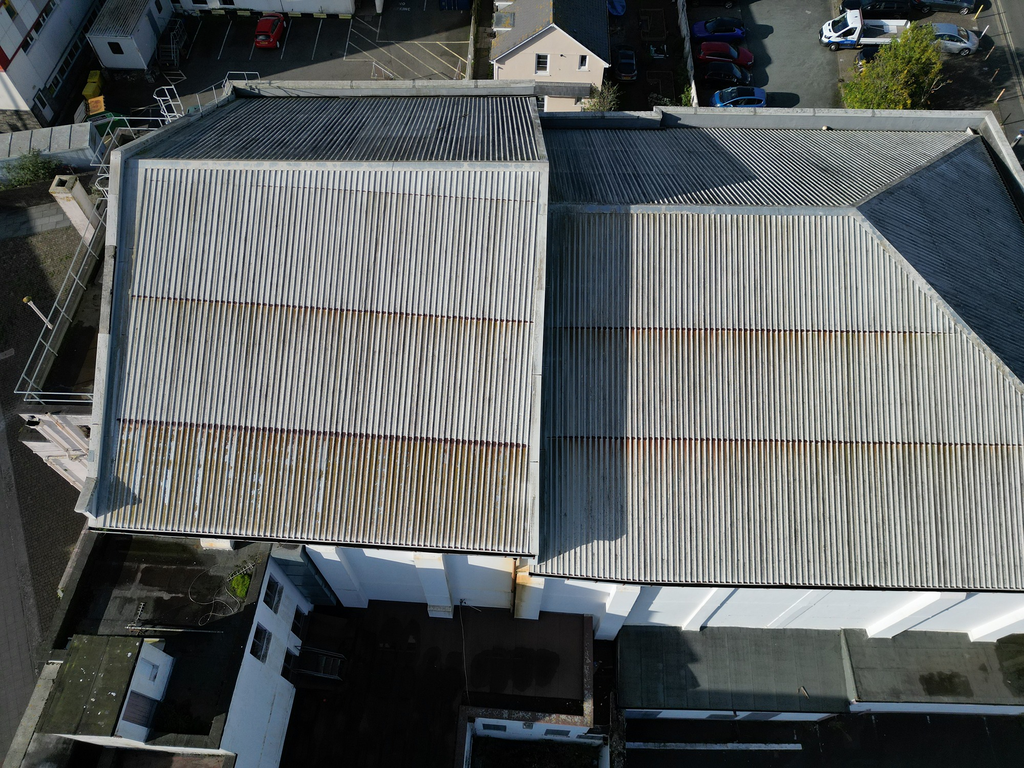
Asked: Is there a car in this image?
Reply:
Yes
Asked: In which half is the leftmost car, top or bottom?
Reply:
top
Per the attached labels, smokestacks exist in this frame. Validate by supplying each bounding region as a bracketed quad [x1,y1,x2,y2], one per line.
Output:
[50,176,91,235]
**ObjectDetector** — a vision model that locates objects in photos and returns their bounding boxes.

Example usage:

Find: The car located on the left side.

[254,17,287,52]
